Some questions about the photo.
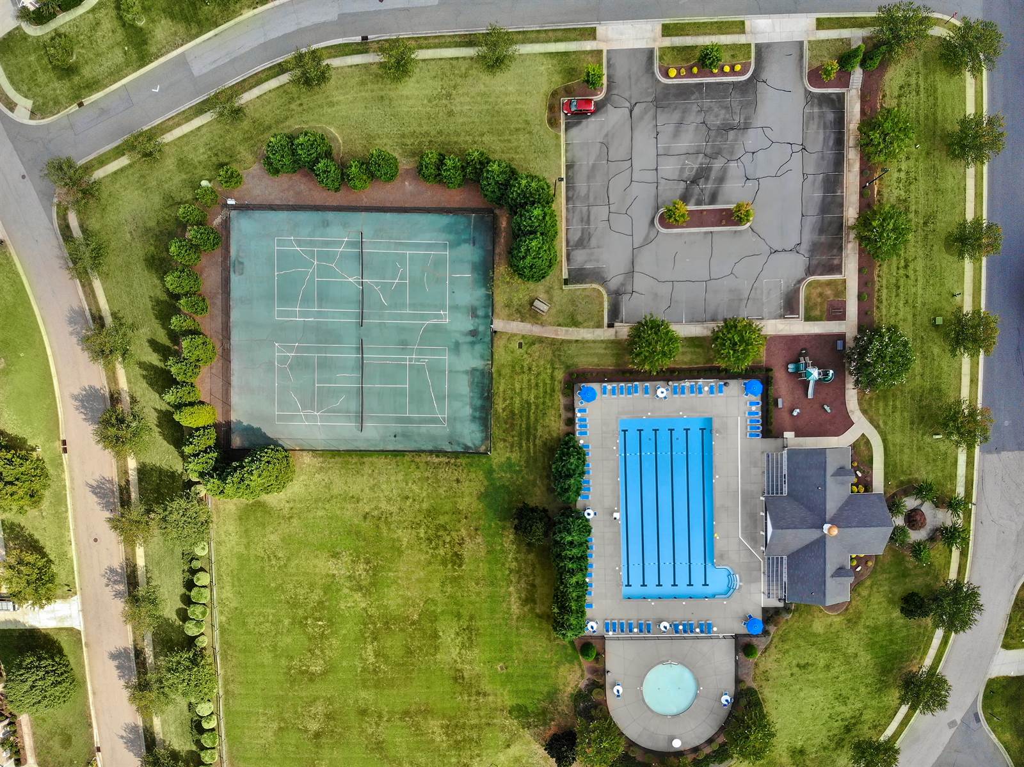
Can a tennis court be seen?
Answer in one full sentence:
Yes, a tennis court is visible in the scene.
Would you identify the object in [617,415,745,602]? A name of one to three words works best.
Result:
swimming pool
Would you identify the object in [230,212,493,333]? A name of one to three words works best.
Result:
tennis court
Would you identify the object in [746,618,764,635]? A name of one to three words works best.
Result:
umbrella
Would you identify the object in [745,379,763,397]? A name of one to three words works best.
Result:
umbrella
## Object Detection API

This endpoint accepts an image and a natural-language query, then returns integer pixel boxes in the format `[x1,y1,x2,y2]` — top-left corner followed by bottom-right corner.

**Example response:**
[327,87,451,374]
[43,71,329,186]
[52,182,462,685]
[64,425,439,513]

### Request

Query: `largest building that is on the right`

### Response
[757,447,894,609]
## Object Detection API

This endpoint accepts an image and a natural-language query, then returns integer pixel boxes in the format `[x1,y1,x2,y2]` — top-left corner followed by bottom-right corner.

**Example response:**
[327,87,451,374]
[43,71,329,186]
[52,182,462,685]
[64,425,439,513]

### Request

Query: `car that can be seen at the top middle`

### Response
[565,96,596,114]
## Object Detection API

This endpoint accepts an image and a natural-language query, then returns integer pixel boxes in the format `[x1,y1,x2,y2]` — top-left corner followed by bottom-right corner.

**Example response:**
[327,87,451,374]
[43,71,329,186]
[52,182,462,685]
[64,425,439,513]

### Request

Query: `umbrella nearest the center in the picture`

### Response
[580,386,597,403]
